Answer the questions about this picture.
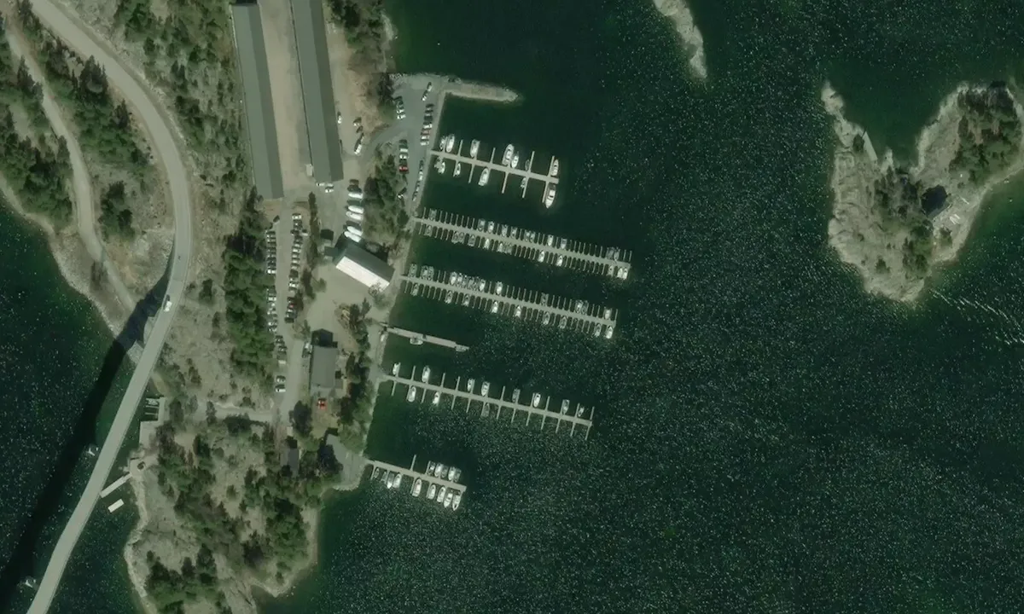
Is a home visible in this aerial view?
Yes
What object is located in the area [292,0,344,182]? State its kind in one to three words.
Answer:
shed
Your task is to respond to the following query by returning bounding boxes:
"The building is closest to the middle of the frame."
[335,243,395,294]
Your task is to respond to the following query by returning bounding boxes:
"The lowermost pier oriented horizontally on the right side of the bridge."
[366,455,467,502]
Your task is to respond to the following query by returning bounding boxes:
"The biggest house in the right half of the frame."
[920,190,949,218]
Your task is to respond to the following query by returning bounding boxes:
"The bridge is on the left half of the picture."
[24,238,190,614]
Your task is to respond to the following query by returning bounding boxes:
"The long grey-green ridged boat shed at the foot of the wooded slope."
[232,3,284,199]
